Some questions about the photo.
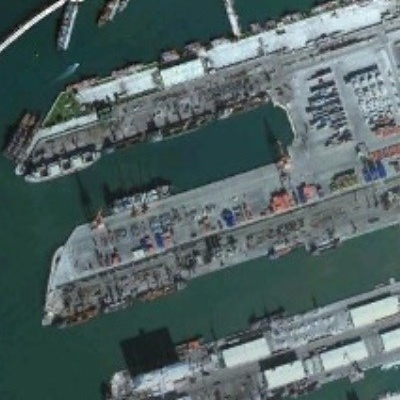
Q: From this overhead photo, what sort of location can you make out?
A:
port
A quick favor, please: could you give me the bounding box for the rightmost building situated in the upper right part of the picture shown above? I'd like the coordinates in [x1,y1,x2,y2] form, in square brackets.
[345,1,384,26]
